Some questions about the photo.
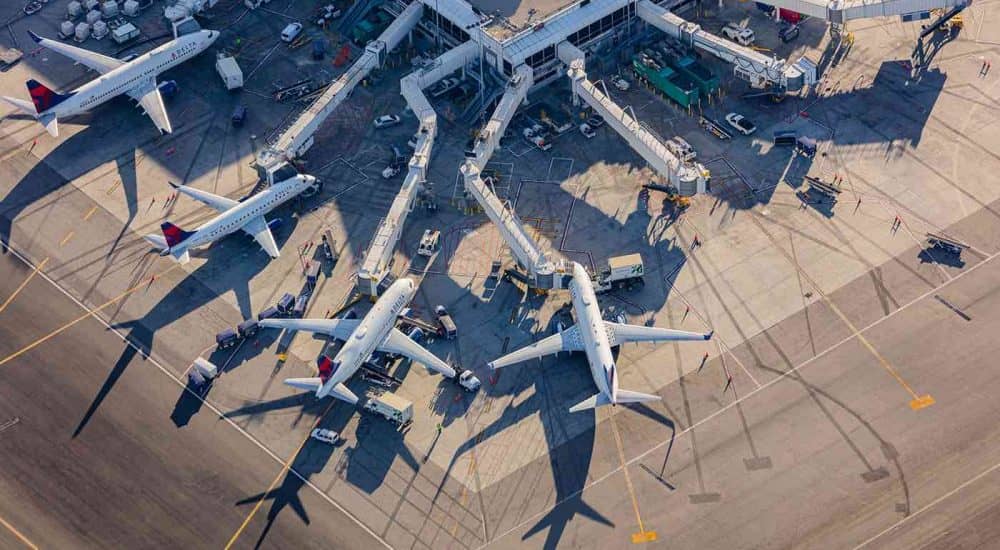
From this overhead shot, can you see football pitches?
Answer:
No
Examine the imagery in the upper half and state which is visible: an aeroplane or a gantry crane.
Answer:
aeroplane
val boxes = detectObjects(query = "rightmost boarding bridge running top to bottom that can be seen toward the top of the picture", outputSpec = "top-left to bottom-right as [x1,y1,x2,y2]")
[456,68,570,296]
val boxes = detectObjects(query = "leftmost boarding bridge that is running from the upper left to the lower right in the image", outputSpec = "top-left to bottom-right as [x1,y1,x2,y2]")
[556,43,709,209]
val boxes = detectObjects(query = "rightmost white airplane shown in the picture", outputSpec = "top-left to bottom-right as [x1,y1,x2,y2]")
[484,267,711,411]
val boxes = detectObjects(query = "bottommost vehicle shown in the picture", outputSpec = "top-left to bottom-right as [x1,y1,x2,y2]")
[309,427,342,444]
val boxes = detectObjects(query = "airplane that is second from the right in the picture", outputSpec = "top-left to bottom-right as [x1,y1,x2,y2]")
[257,280,459,404]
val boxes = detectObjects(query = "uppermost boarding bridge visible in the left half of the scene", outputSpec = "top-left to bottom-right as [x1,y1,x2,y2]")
[167,0,239,43]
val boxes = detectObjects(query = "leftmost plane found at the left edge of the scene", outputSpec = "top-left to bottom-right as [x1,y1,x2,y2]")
[4,31,212,136]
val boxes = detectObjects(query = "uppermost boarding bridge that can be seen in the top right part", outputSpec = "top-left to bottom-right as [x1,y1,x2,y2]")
[742,0,978,42]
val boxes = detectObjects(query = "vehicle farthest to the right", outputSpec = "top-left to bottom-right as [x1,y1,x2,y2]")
[921,232,975,252]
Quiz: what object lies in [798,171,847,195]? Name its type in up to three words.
work vehicle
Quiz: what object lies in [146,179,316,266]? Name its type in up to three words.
airplane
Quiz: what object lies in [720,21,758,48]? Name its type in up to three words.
truck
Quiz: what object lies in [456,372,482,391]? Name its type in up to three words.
vehicle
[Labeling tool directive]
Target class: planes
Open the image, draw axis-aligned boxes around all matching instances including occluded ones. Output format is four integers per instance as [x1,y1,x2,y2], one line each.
[146,179,316,266]
[257,280,459,404]
[4,31,212,136]
[484,267,711,411]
